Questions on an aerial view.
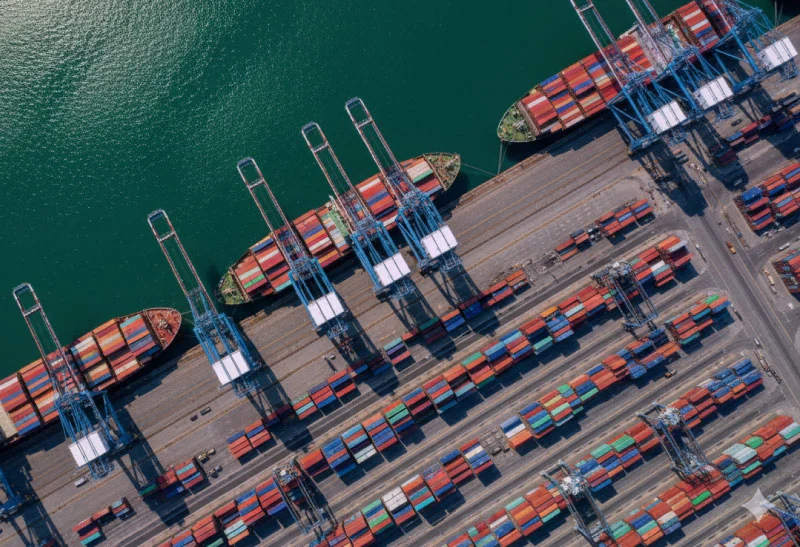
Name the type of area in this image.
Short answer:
port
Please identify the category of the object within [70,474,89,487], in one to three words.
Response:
vehicle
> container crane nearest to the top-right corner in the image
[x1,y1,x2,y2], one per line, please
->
[702,0,796,102]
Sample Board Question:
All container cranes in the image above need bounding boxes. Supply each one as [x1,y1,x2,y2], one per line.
[301,120,420,303]
[238,156,362,340]
[347,95,465,278]
[145,206,277,395]
[702,0,796,102]
[627,398,707,478]
[573,0,687,160]
[584,257,658,331]
[8,281,152,477]
[262,450,331,533]
[633,0,730,134]
[538,456,612,538]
